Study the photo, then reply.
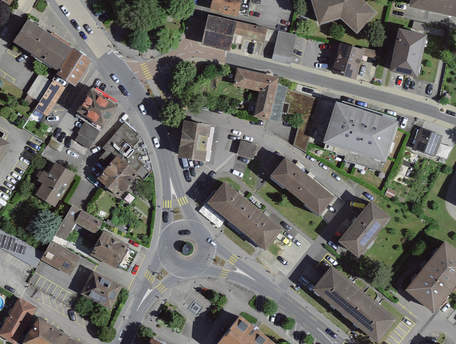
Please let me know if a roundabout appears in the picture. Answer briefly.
Yes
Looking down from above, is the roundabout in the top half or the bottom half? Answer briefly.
bottom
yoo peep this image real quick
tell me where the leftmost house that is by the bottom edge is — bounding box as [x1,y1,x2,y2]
[0,299,36,343]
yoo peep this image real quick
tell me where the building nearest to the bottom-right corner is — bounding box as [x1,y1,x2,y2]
[406,242,456,312]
